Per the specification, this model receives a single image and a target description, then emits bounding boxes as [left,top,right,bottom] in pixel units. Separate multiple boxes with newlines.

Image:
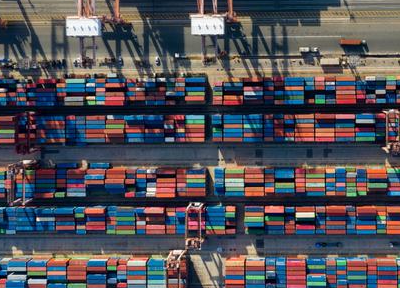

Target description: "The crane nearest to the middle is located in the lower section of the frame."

[185,194,211,251]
